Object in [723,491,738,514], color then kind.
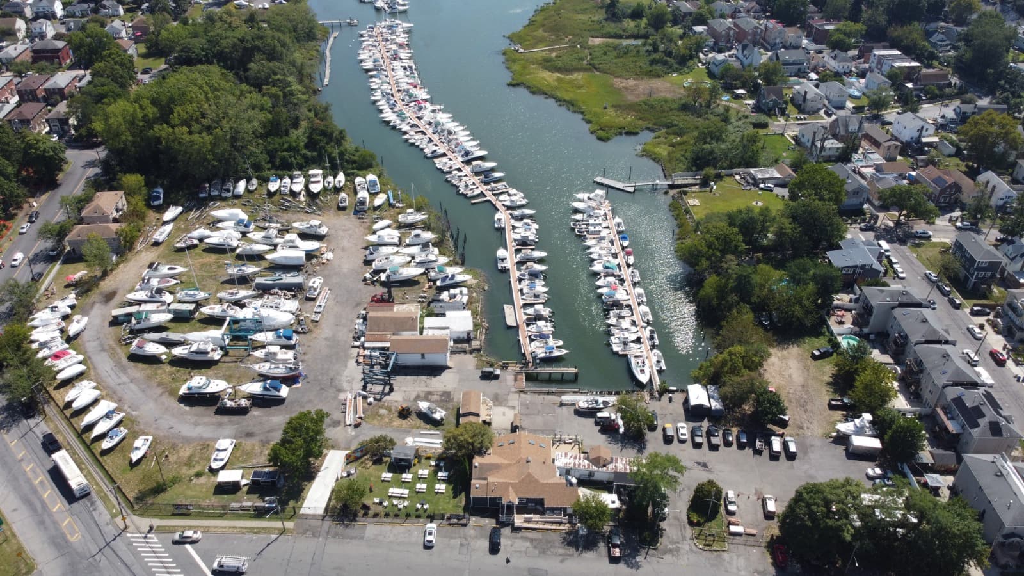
white car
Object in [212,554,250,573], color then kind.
white vehicle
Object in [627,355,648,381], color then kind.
white boat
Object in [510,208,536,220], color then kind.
white boat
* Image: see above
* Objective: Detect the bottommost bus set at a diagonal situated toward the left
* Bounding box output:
[51,446,92,499]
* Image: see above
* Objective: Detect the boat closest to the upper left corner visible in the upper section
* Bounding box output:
[150,186,164,208]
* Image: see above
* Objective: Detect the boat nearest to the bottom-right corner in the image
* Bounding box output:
[837,413,874,438]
